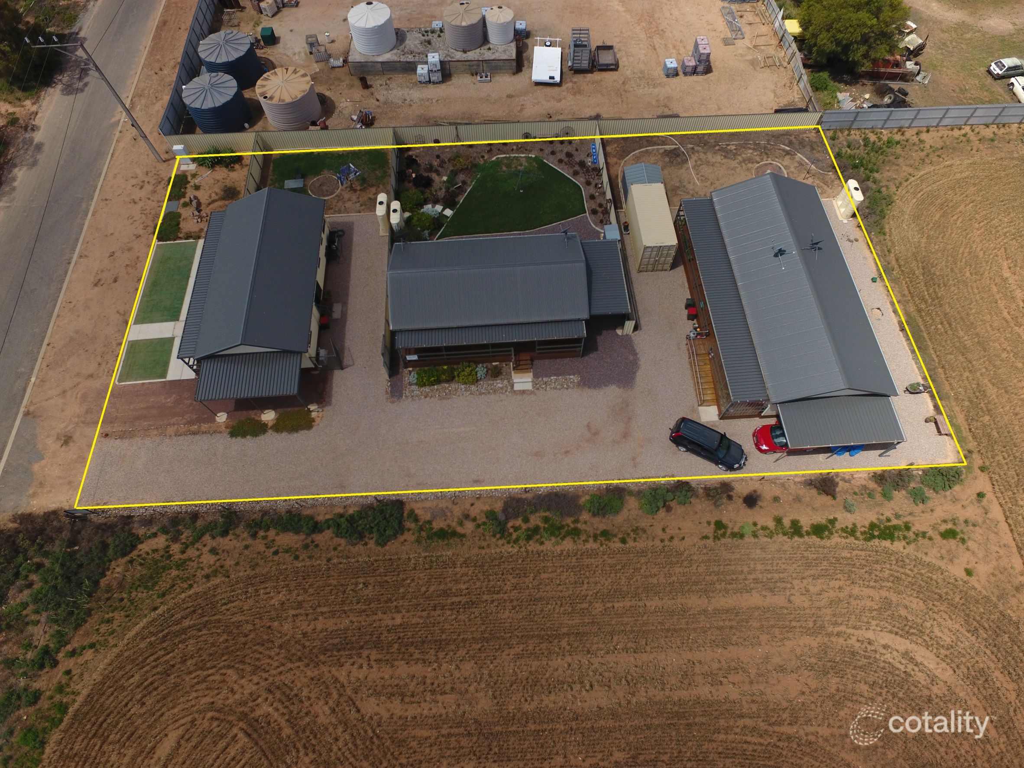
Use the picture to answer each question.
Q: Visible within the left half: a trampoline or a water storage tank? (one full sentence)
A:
You can see a water storage tank within the left half.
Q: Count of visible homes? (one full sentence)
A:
The photo contains 3 homes.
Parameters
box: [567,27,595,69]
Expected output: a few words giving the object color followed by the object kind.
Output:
gray trailer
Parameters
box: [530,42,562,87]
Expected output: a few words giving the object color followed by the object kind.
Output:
white trailer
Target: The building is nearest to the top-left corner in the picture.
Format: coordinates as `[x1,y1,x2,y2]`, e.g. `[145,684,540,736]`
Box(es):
[174,188,331,417]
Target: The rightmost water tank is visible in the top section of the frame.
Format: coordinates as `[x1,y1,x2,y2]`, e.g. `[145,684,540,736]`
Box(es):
[830,178,863,221]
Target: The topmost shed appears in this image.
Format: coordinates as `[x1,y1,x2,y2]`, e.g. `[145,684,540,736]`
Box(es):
[620,162,667,208]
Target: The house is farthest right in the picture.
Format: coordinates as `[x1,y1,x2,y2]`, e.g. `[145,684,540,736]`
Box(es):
[673,172,909,463]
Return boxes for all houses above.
[388,232,632,390]
[174,188,331,417]
[673,172,909,463]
